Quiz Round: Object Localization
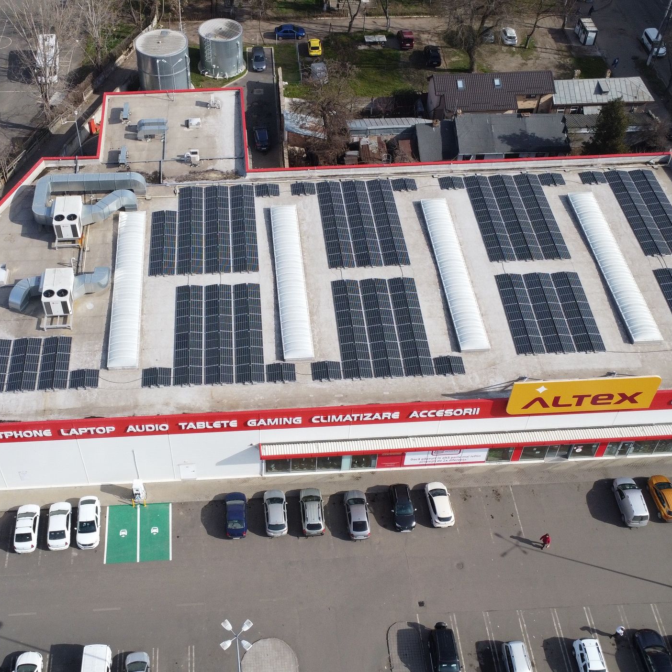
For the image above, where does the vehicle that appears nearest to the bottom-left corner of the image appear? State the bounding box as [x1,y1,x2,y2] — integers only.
[14,649,43,672]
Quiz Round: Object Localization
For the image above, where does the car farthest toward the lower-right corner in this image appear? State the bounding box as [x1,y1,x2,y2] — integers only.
[635,628,672,672]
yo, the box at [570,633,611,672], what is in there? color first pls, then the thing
white car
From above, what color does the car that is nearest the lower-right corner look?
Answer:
black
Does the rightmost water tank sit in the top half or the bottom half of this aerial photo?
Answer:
top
